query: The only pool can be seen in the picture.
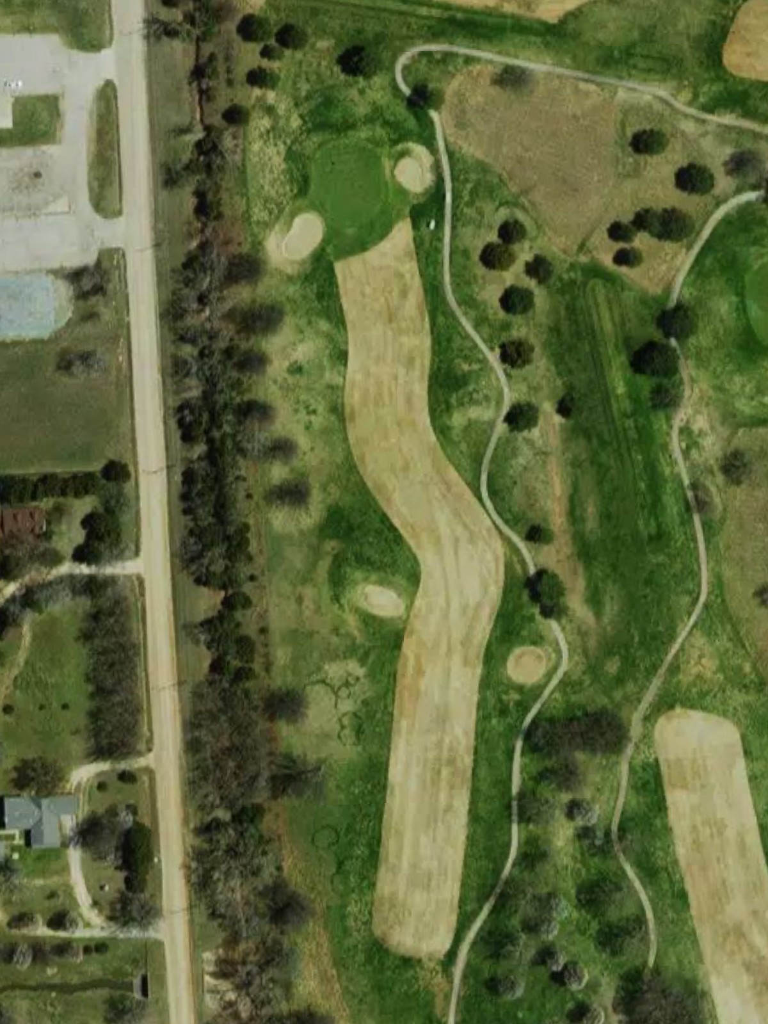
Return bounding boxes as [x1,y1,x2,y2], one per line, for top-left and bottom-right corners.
[0,272,74,341]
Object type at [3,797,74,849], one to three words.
house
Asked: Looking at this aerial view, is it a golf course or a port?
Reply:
golf course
